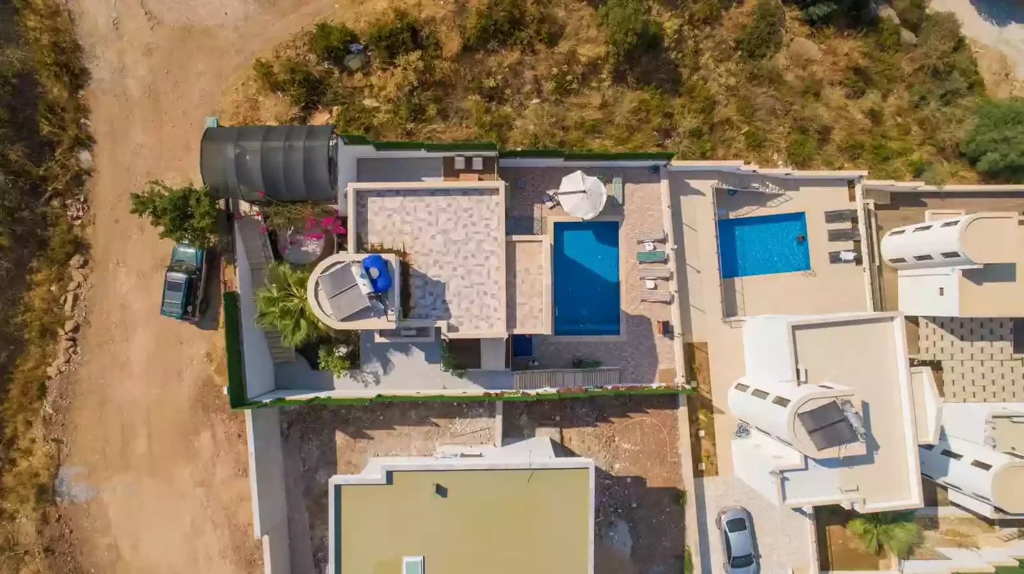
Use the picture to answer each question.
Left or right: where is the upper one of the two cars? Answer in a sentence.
It is on the left.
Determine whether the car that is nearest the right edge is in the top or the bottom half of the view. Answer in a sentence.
You can find the car that is nearest the right edge in the bottom half.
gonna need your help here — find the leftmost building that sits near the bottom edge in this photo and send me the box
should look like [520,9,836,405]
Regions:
[328,429,594,574]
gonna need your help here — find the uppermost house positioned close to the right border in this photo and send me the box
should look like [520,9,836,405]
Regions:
[877,208,1024,318]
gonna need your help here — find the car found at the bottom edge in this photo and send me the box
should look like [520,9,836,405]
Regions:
[720,507,764,574]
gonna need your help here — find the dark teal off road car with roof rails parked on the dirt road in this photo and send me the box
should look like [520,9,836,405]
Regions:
[157,241,213,327]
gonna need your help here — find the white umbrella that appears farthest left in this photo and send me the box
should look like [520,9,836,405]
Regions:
[557,168,609,221]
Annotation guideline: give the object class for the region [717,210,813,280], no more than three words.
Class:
swimming pool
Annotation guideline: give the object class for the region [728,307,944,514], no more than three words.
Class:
house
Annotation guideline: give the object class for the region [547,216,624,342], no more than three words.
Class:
swimming pool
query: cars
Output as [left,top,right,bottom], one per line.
[720,507,764,574]
[157,241,213,327]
